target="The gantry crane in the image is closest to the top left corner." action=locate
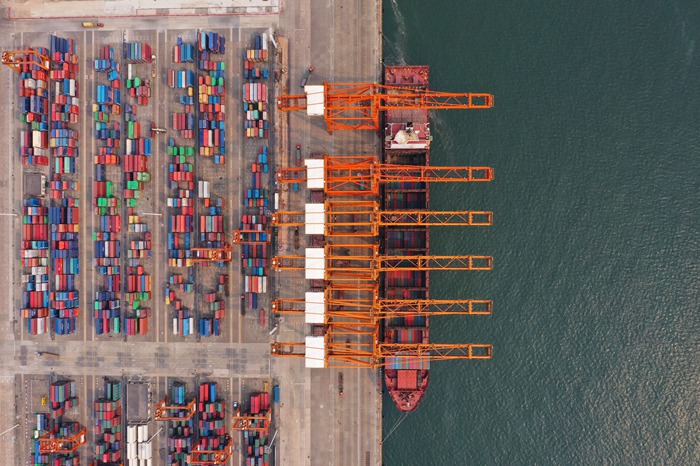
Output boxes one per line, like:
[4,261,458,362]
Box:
[1,47,53,74]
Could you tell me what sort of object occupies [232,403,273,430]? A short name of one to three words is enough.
container crane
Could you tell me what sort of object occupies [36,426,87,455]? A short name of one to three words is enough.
container crane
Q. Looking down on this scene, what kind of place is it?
port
